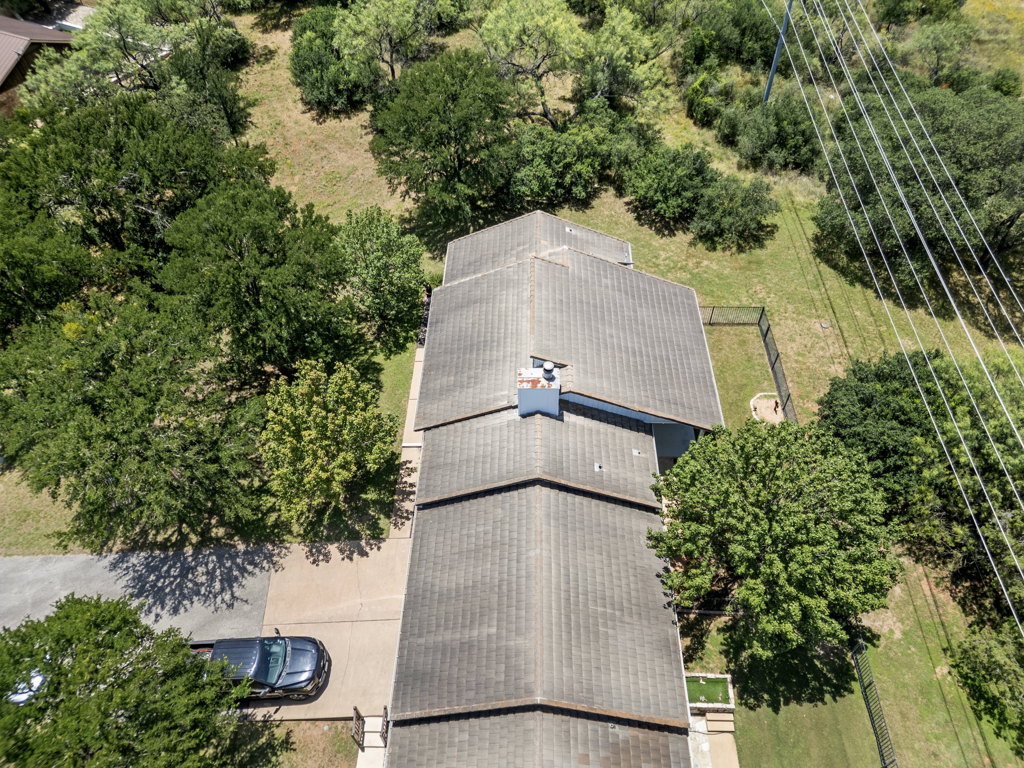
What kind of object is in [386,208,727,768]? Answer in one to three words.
house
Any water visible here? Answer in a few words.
No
